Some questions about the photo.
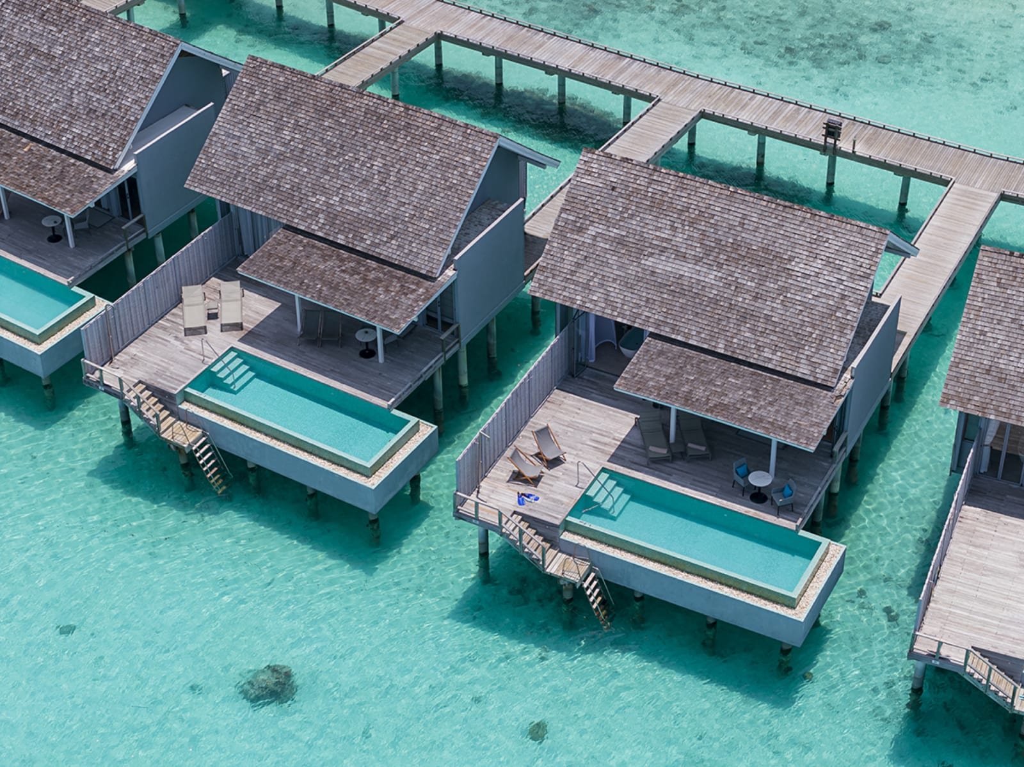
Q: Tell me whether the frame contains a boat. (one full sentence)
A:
No, this view has no boat in it.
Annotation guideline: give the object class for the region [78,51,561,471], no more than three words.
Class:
house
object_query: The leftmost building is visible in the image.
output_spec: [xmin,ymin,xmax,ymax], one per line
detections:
[0,0,238,294]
